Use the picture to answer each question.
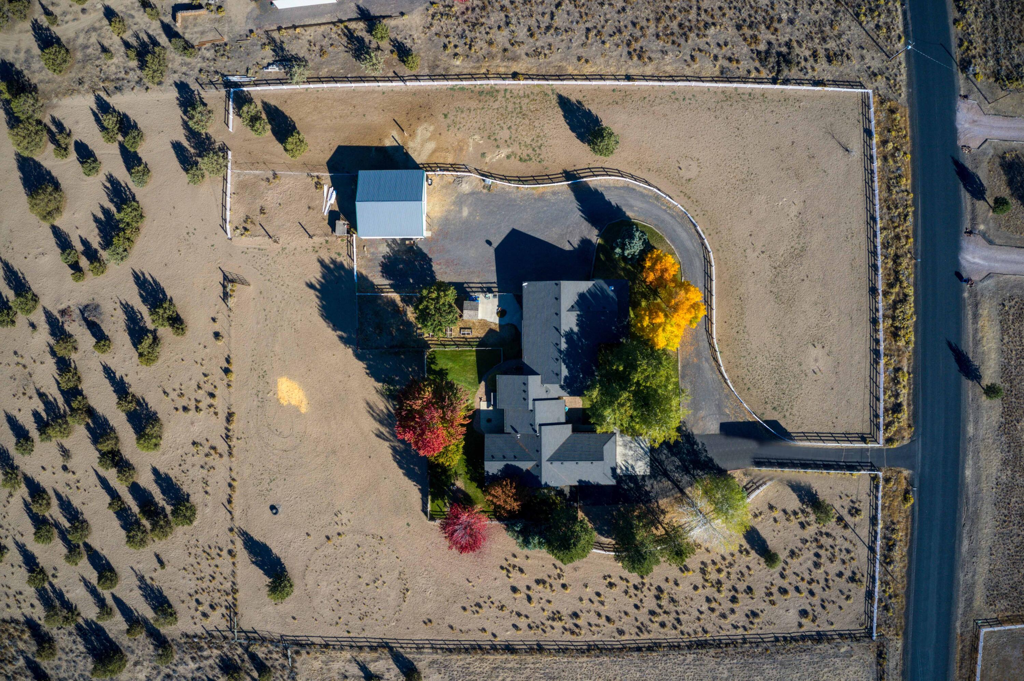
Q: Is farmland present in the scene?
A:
Yes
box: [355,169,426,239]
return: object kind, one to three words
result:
barn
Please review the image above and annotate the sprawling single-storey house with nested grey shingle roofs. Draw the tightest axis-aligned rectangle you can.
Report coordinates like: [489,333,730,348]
[484,278,629,488]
